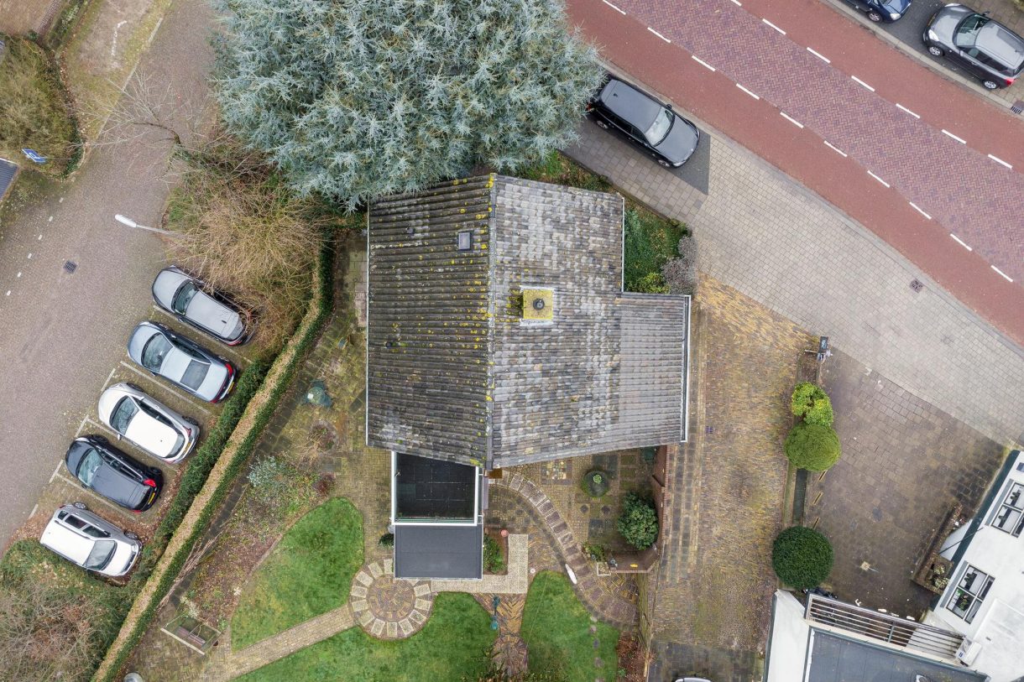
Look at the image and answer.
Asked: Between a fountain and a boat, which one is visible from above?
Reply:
fountain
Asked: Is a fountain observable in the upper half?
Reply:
No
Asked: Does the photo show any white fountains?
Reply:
No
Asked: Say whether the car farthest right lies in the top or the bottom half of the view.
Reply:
top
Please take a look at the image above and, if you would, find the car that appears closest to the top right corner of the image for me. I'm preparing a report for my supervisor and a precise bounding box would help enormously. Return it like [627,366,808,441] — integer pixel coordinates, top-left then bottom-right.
[919,5,1024,96]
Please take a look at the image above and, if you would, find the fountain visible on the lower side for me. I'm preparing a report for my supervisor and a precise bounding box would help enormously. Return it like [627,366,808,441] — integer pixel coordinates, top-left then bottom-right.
[581,466,610,496]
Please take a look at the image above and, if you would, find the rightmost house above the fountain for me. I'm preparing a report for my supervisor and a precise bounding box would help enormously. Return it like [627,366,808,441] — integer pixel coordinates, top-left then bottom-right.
[363,169,697,473]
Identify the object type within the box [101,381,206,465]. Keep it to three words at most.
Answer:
car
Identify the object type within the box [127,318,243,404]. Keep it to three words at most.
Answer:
car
